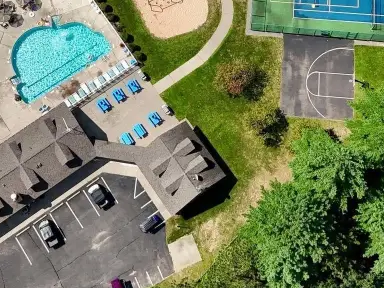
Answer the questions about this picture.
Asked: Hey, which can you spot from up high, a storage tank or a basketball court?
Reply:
basketball court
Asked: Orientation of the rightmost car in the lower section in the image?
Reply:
at an angle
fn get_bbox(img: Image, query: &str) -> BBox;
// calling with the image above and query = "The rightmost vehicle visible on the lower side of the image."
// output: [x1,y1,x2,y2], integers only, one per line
[136,210,168,237]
